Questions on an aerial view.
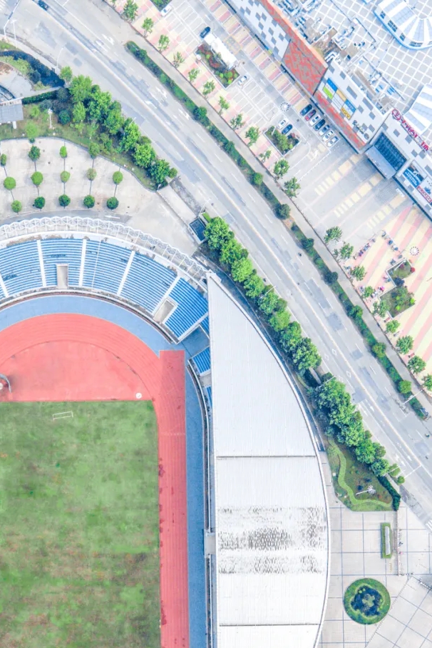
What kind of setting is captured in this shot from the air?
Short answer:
sports ground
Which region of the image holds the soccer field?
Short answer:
bottom left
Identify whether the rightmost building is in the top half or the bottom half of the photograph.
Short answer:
top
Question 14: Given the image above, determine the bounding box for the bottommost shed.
[188,216,208,244]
